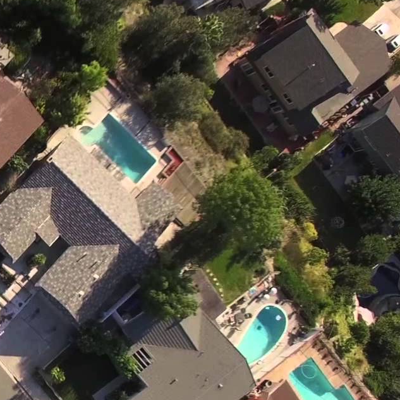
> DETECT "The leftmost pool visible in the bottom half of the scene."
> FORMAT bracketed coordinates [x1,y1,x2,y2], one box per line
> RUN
[243,303,290,364]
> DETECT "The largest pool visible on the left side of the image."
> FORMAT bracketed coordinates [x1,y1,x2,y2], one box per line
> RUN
[77,110,160,186]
